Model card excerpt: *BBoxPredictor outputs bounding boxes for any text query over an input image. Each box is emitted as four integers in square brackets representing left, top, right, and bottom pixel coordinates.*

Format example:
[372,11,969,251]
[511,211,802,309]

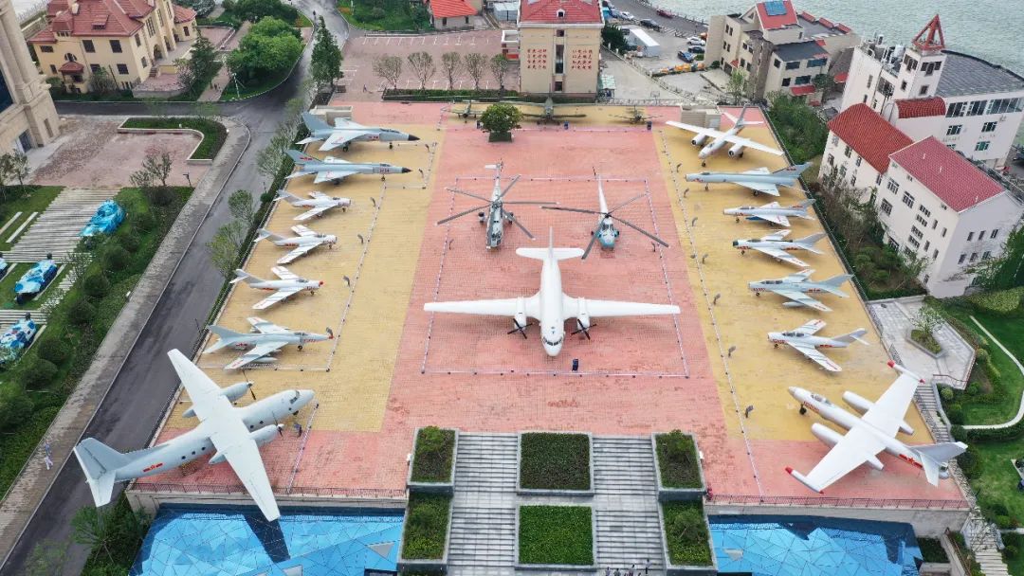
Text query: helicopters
[537,164,665,258]
[442,158,556,251]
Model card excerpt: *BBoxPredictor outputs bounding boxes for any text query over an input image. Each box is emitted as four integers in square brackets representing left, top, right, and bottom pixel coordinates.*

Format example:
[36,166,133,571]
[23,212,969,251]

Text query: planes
[740,263,858,308]
[277,183,353,217]
[257,220,339,257]
[297,114,420,155]
[69,343,316,518]
[667,101,776,163]
[232,259,325,305]
[730,226,830,264]
[514,100,596,133]
[287,151,414,187]
[206,312,332,361]
[721,196,815,226]
[439,99,480,124]
[683,160,812,195]
[425,221,680,360]
[778,364,968,498]
[768,311,871,365]
[608,98,663,128]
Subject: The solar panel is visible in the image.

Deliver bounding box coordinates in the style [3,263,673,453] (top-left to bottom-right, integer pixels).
[765,2,789,20]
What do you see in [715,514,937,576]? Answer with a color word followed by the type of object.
blue swimming pool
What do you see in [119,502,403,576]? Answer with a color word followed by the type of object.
blue swimming pool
